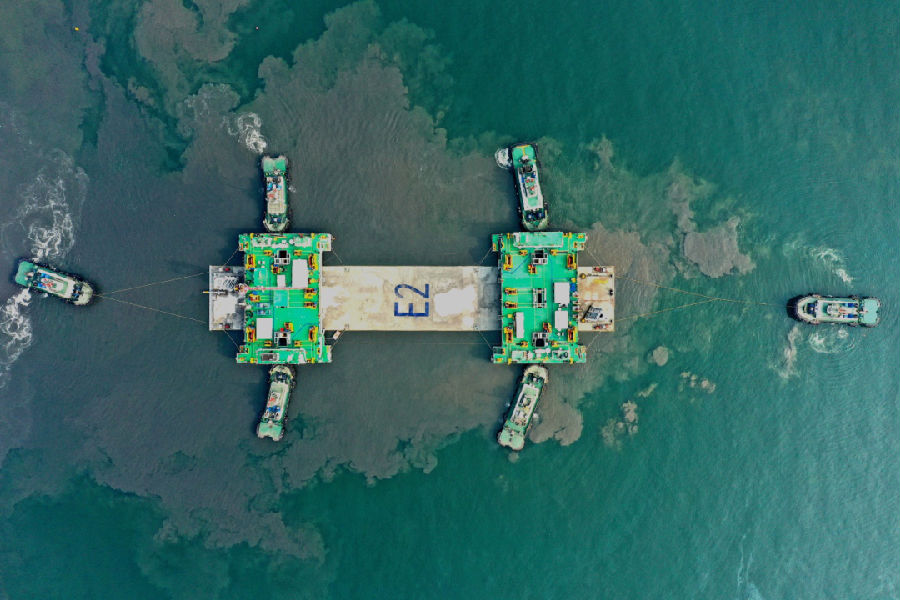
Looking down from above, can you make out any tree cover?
No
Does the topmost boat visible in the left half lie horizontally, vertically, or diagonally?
vertically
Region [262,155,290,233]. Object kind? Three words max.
boat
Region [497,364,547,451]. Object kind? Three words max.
boat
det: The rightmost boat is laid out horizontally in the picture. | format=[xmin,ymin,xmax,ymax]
[791,294,882,325]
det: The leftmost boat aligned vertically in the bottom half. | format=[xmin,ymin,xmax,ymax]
[257,365,294,442]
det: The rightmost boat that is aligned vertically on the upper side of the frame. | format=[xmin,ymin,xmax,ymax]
[510,142,547,233]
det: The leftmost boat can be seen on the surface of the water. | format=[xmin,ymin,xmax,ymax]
[13,260,95,304]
